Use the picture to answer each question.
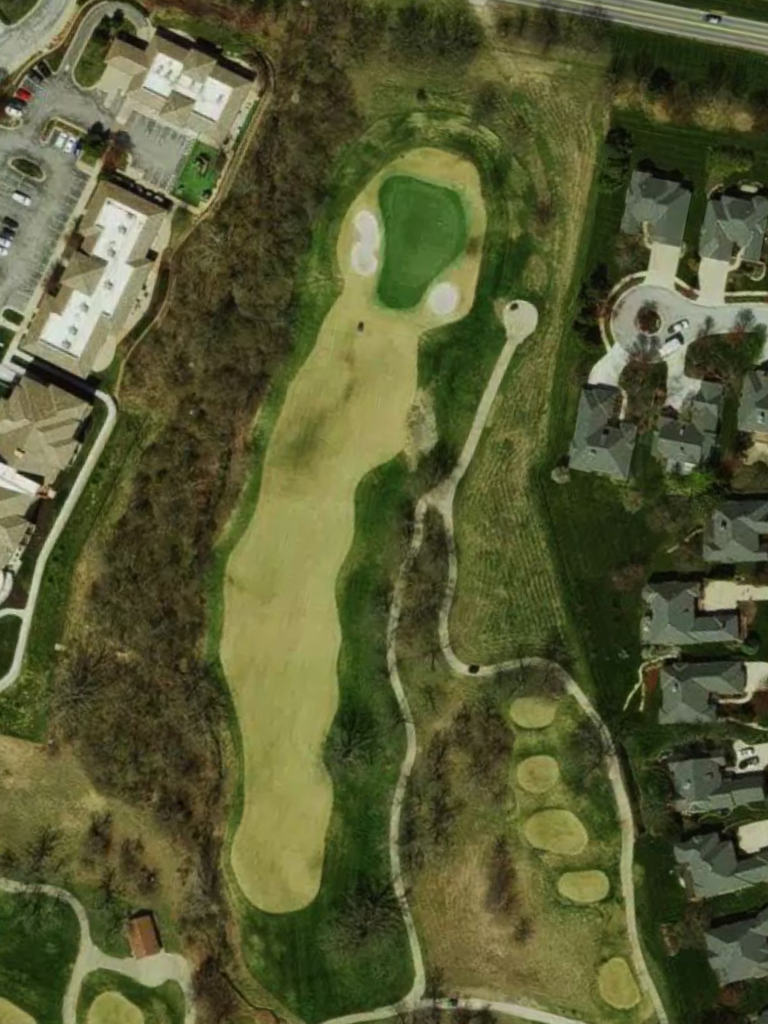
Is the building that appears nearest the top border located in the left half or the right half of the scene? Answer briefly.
left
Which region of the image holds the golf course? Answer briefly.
center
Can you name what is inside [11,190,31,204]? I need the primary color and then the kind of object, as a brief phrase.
white car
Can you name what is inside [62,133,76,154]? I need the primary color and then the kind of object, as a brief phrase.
white car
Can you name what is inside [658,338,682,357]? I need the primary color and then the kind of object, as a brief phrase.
white vehicle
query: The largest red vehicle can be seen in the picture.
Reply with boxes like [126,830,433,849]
[14,87,33,102]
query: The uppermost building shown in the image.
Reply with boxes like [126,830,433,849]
[106,32,254,150]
